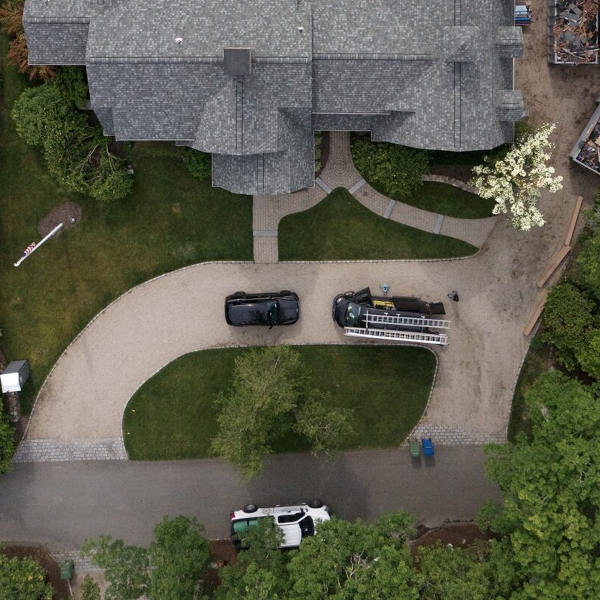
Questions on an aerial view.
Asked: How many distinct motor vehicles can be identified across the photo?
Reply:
three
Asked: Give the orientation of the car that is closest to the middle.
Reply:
from side to side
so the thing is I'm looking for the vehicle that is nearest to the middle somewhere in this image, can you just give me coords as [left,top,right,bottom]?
[226,290,300,328]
